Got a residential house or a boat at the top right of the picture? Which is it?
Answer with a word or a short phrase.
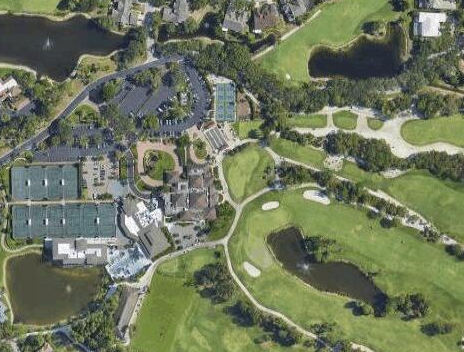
residential house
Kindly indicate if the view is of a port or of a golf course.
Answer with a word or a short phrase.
golf course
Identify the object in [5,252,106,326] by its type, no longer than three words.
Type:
pond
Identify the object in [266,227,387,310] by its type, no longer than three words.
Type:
pond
